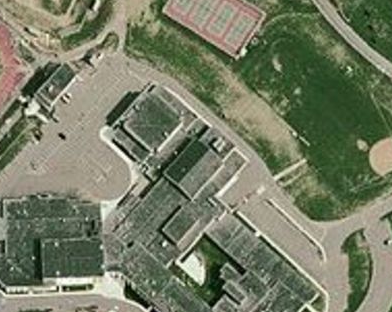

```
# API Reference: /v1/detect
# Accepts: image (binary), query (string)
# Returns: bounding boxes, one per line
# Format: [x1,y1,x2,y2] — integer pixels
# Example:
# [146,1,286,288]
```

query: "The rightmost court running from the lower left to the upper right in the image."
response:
[225,13,255,49]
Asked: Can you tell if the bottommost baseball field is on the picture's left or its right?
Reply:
right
